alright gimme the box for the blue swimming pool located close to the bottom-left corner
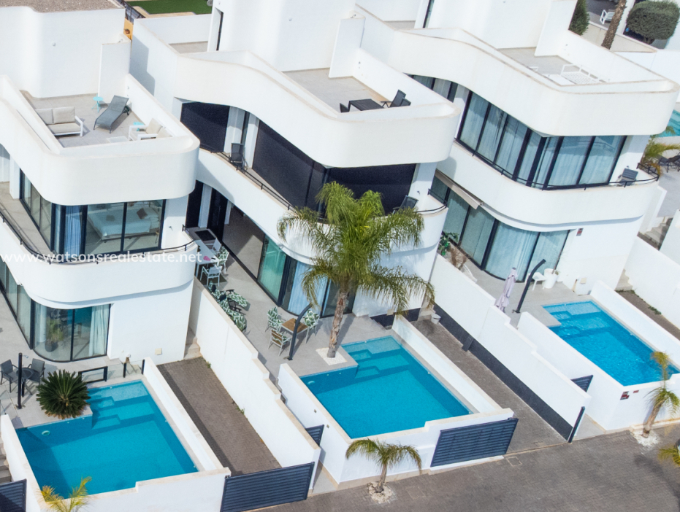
[20,380,196,500]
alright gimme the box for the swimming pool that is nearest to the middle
[310,334,467,435]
